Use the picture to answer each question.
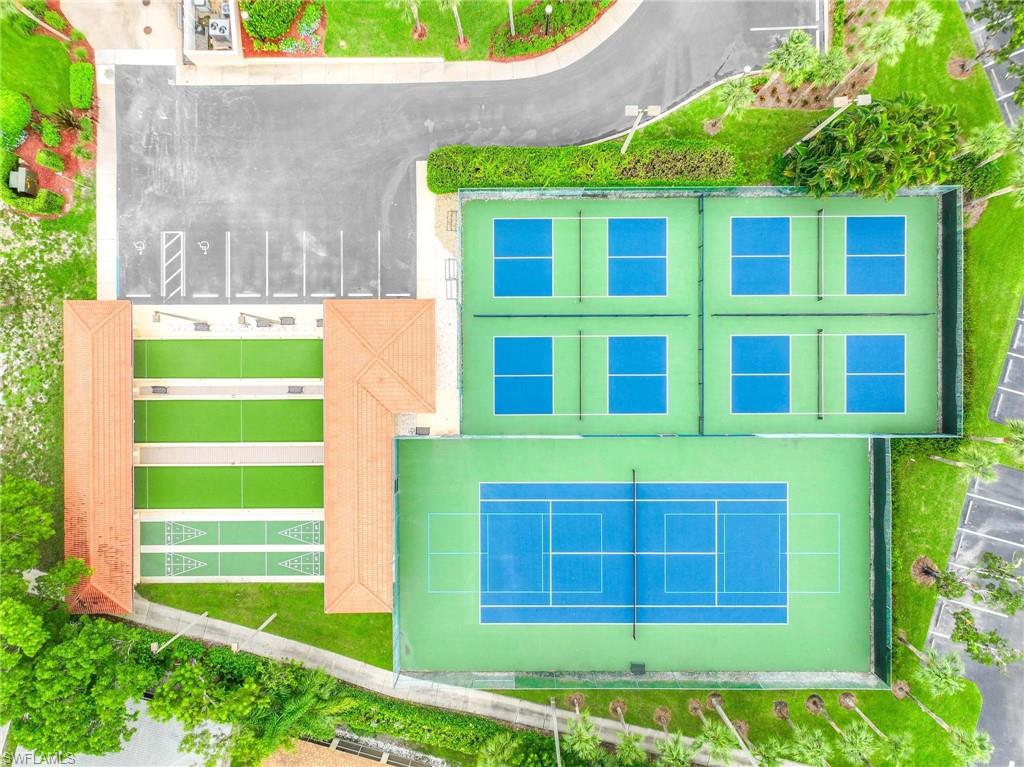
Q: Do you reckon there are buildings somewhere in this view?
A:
Yes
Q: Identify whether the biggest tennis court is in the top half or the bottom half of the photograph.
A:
bottom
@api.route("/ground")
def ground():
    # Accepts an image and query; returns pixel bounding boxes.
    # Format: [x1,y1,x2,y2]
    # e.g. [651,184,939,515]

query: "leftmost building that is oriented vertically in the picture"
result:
[63,300,135,615]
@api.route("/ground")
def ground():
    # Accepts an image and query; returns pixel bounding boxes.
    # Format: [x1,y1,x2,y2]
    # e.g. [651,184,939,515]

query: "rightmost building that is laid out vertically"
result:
[323,299,436,614]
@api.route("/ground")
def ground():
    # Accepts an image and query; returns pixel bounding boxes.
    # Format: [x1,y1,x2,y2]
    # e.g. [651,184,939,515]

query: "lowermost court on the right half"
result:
[399,437,869,671]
